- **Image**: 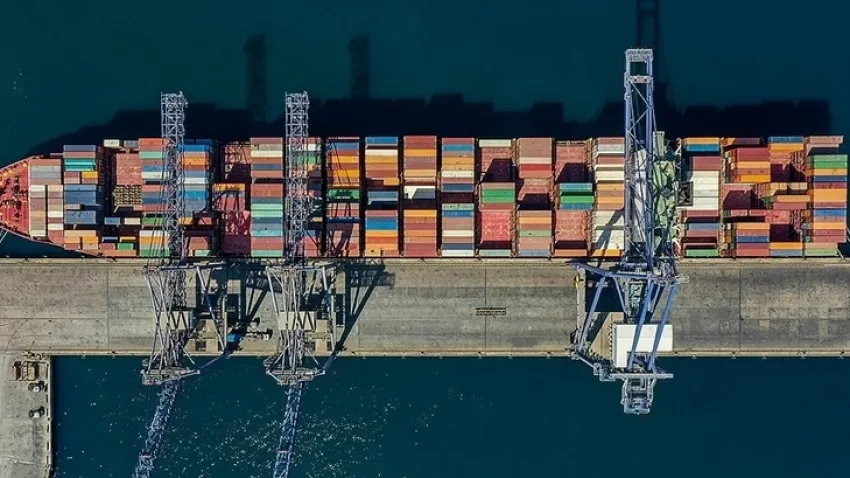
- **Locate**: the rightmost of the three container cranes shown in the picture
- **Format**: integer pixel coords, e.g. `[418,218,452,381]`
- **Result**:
[554,44,689,417]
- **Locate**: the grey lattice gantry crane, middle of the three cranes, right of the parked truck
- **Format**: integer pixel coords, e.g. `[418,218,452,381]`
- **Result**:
[265,89,347,478]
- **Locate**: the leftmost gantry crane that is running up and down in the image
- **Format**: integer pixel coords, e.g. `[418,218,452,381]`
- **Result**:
[129,89,240,478]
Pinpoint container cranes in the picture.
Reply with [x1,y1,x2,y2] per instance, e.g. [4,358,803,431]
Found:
[265,89,347,478]
[554,44,689,417]
[129,89,240,478]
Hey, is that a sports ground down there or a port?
port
